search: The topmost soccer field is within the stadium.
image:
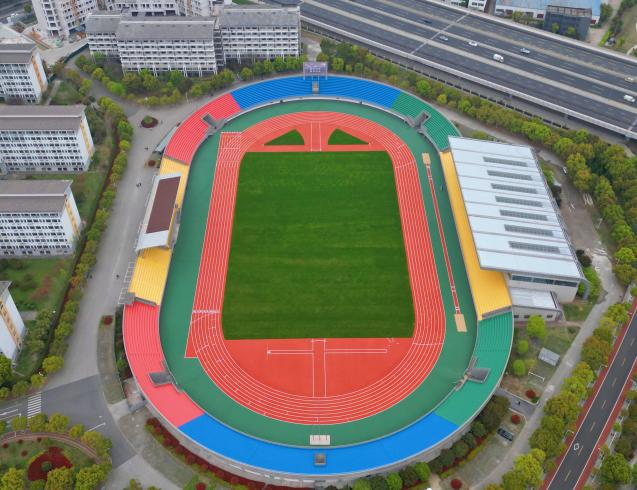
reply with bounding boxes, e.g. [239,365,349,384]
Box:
[220,128,417,340]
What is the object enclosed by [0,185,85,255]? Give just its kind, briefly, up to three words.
building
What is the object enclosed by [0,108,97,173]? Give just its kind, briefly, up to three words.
building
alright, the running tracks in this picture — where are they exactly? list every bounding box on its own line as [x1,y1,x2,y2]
[184,111,446,425]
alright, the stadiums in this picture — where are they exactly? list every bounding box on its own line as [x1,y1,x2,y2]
[118,76,514,487]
